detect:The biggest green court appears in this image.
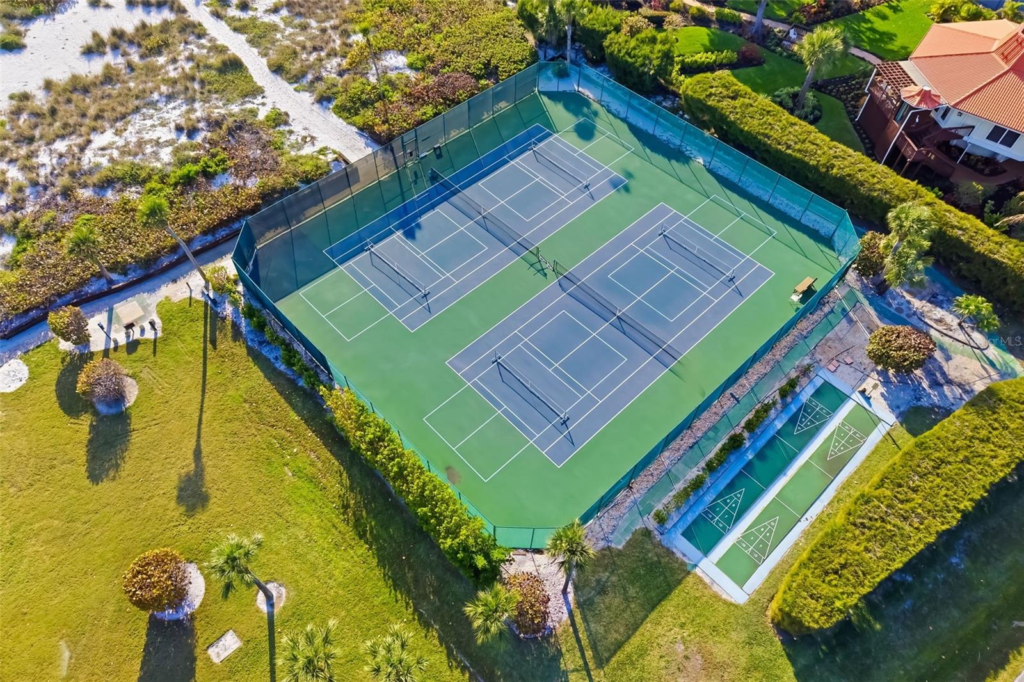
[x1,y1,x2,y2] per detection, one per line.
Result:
[248,91,843,550]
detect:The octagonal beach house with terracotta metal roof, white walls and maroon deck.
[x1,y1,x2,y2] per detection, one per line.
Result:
[853,18,1024,198]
